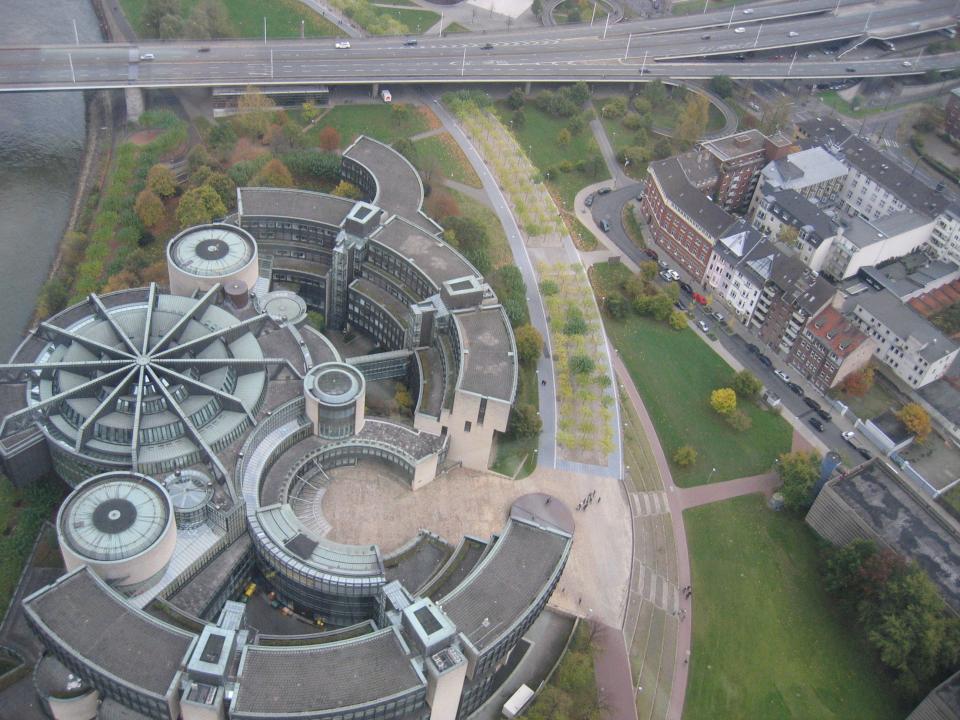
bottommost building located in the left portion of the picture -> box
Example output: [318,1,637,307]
[0,134,574,720]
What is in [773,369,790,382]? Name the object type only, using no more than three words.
vehicle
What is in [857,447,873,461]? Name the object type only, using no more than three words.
car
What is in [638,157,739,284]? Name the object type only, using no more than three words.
building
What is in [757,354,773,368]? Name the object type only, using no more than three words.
vehicle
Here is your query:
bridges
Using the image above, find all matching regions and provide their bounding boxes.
[0,0,960,144]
